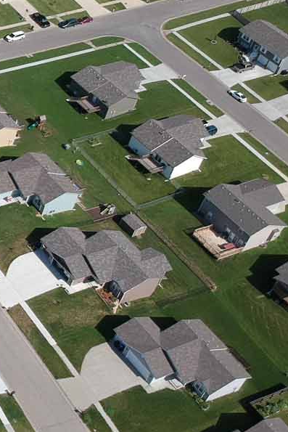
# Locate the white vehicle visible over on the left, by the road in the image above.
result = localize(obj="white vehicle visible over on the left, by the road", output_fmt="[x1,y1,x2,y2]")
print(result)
[3,28,25,42]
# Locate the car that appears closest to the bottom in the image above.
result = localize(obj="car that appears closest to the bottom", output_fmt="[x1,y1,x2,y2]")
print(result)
[202,124,223,136]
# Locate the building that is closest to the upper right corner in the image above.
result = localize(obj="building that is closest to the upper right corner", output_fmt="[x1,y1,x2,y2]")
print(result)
[227,15,288,78]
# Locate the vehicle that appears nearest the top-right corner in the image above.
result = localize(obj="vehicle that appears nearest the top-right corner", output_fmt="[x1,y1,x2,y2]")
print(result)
[232,59,255,73]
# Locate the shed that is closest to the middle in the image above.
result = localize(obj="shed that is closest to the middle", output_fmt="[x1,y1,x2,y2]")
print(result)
[117,211,150,239]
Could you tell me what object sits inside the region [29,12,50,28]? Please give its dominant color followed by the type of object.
black car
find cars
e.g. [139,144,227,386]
[29,12,50,28]
[232,59,255,73]
[3,28,25,42]
[202,124,223,136]
[78,15,96,26]
[225,88,249,104]
[58,16,78,29]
